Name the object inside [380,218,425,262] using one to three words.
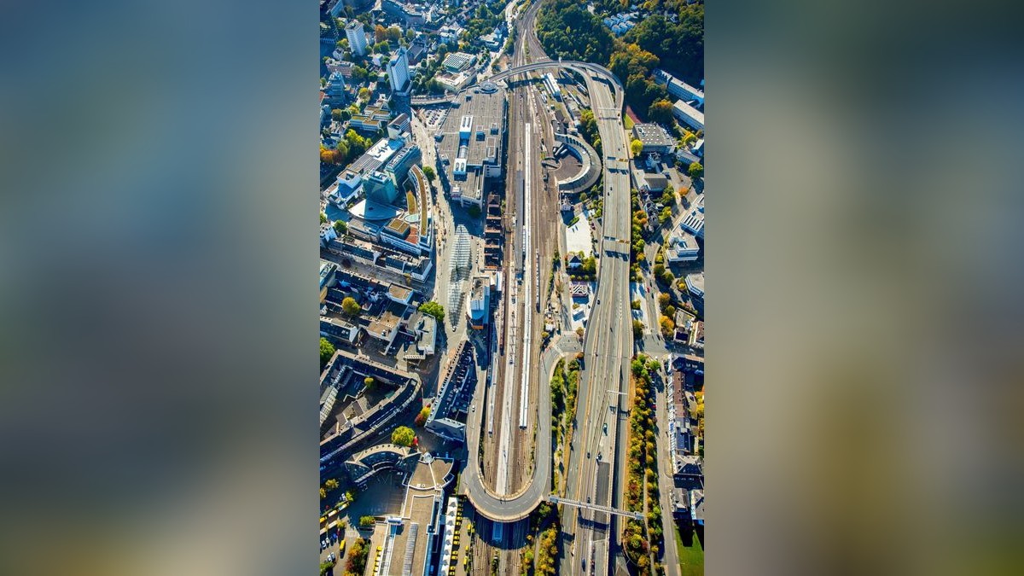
building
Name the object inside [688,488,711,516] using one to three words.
house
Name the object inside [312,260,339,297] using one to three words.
building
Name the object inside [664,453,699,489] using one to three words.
house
